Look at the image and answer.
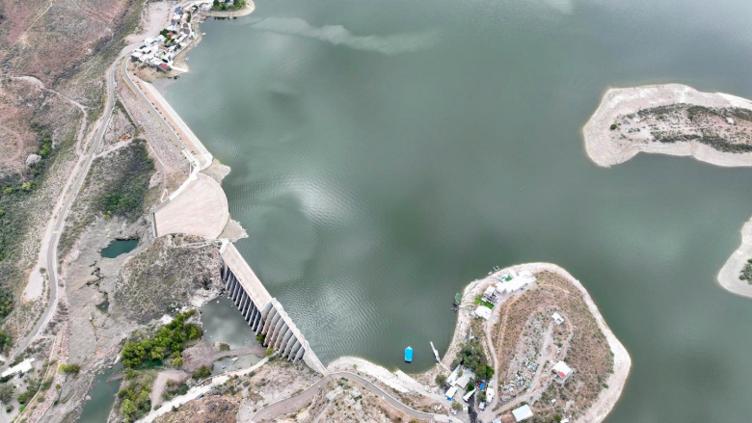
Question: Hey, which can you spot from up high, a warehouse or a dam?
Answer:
dam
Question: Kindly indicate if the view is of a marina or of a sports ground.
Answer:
marina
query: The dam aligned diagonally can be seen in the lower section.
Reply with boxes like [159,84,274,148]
[219,239,330,377]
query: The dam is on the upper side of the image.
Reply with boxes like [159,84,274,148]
[113,67,215,170]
